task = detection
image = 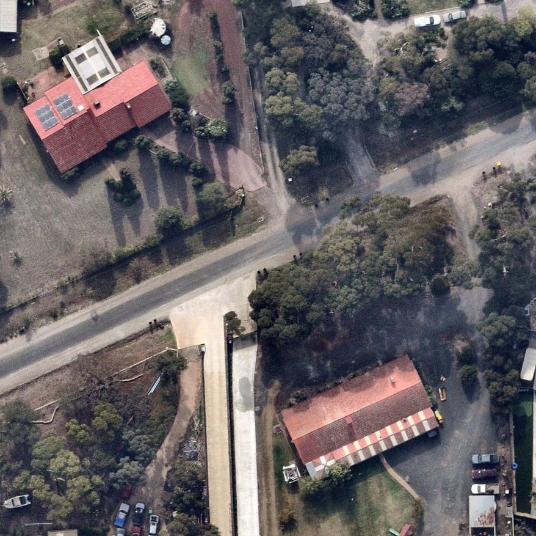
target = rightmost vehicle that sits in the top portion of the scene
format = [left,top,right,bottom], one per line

[446,9,468,22]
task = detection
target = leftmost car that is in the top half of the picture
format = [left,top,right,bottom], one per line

[413,14,441,26]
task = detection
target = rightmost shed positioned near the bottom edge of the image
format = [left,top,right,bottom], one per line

[470,496,495,528]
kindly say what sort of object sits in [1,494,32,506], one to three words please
boat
